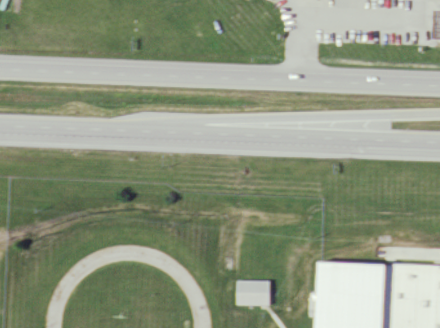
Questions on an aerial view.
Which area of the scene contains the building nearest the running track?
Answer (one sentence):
You can find the building nearest the running track in the bottom area of the picture.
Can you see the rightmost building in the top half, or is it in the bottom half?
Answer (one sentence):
You can find the rightmost building in the bottom half.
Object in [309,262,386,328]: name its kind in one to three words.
building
